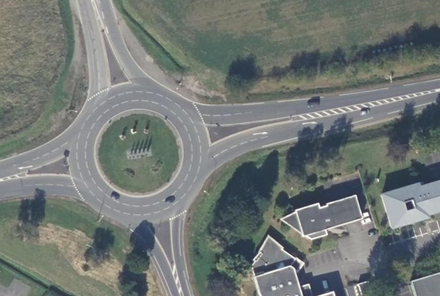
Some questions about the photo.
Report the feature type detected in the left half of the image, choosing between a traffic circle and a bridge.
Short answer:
traffic circle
